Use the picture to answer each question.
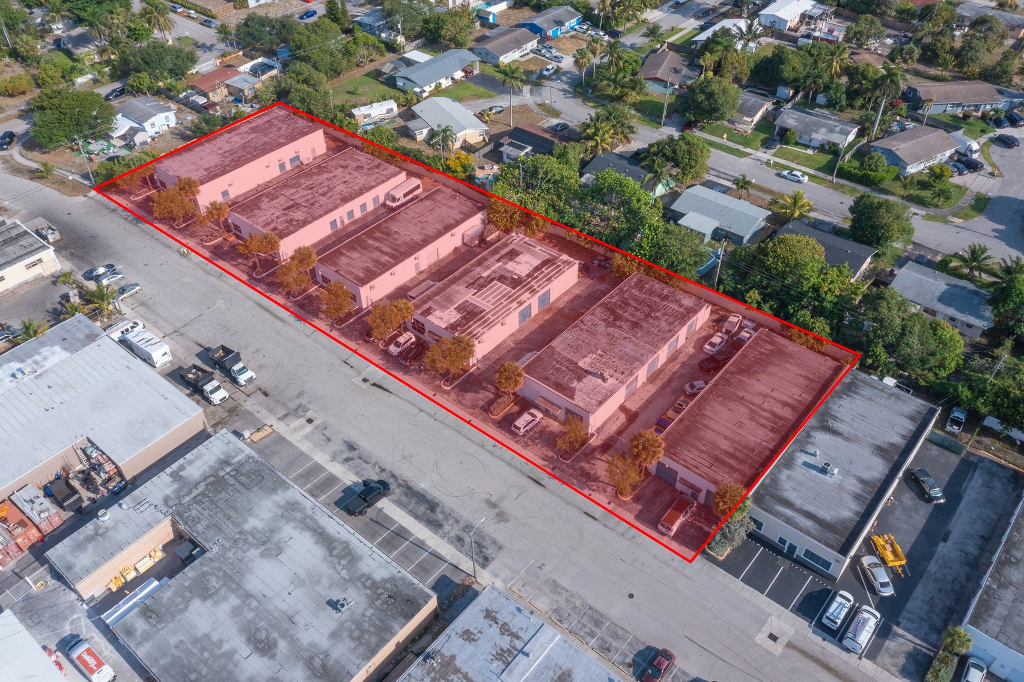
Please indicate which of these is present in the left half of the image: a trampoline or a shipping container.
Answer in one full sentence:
The one visible in the left half of the image is a shipping container.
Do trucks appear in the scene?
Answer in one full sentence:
Yes, the picture does show a truck.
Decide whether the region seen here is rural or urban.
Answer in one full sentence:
This place is urban.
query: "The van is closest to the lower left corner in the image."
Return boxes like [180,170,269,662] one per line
[65,632,114,682]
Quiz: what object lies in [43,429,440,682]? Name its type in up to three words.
building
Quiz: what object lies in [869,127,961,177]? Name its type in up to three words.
house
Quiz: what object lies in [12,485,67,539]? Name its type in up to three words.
shipping container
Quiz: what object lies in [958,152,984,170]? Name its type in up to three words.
car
